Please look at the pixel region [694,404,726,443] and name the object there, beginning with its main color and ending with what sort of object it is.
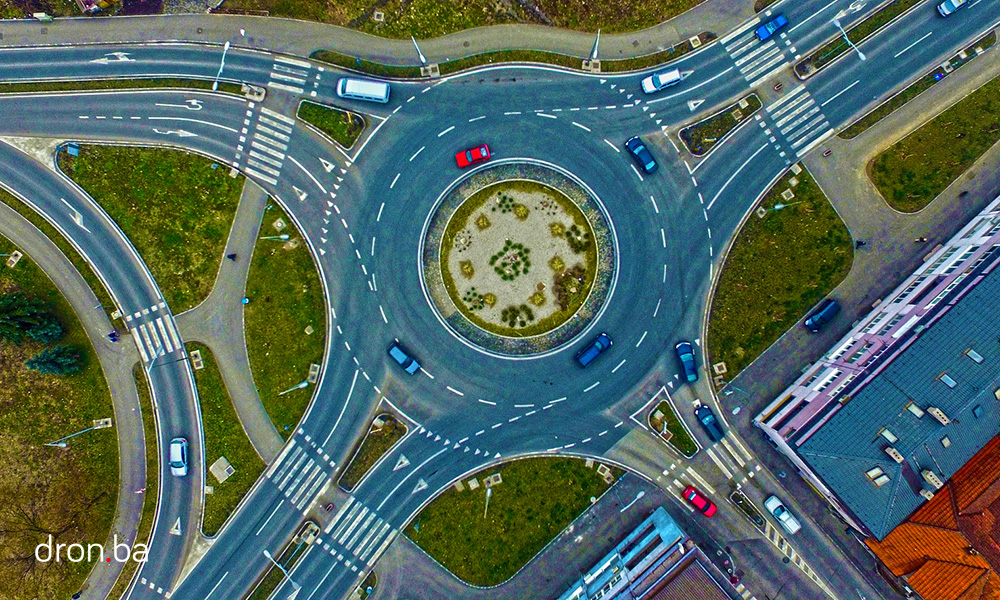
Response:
blue car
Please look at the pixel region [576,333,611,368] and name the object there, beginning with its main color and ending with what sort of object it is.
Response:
blue car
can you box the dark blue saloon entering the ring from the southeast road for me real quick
[675,341,699,383]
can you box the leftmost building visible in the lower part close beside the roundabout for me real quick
[559,507,756,600]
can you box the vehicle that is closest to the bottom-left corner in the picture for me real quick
[168,436,190,476]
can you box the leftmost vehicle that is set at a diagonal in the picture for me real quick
[387,342,421,374]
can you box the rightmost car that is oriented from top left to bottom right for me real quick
[763,493,803,537]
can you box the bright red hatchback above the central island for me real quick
[456,145,490,168]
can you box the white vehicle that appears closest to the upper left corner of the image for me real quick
[336,76,393,104]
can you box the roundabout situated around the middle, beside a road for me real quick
[306,64,756,483]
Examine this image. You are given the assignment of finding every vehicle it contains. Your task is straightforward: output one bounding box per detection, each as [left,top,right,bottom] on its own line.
[387,342,421,374]
[336,76,393,104]
[168,436,190,476]
[576,333,611,368]
[694,404,726,443]
[935,0,974,19]
[681,484,718,518]
[675,341,699,383]
[641,67,683,96]
[625,136,659,175]
[763,493,803,537]
[456,145,490,168]
[754,11,790,41]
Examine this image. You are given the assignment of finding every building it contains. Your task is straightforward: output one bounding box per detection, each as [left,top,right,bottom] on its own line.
[760,196,1000,540]
[559,507,756,600]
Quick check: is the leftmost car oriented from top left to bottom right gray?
No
